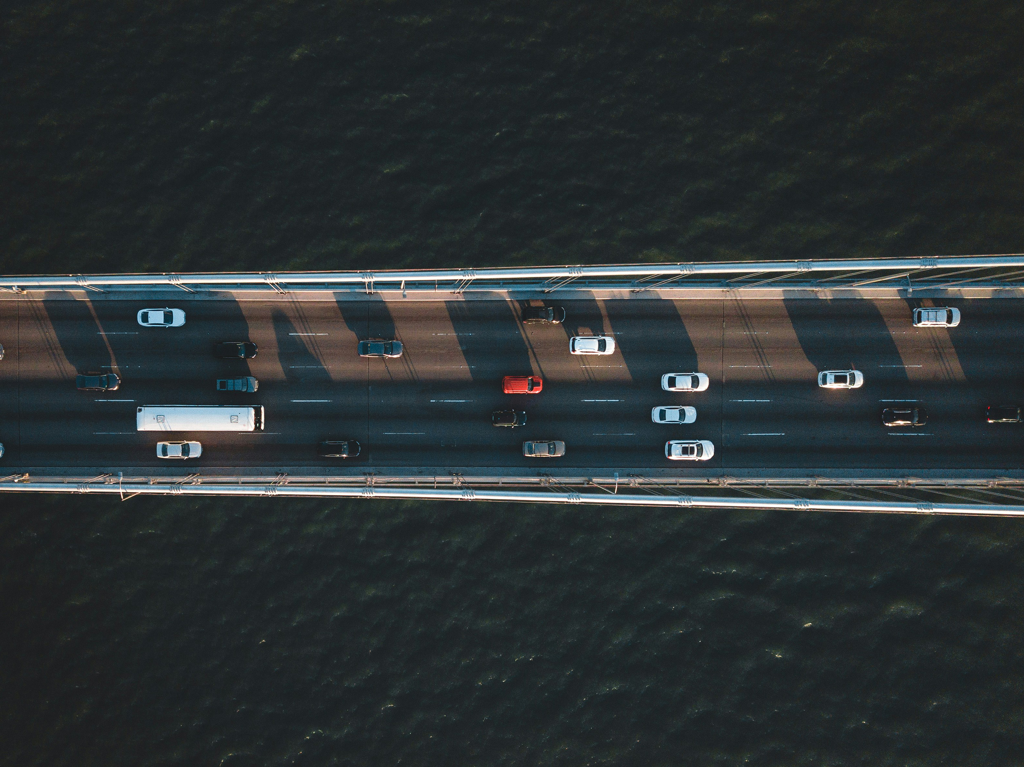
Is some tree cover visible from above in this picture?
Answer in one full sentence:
No, tree cover can't be seen anywhere here.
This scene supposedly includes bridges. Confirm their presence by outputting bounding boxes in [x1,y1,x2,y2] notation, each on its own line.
[0,254,1024,518]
